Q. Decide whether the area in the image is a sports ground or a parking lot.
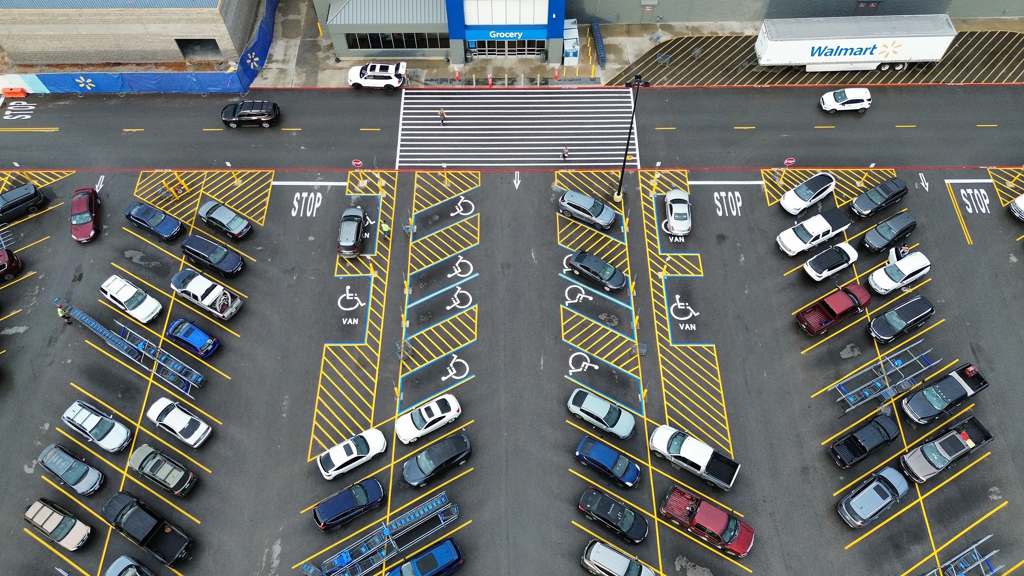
parking lot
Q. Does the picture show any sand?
No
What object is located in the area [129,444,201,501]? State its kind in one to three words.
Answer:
car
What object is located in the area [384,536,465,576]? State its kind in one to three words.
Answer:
car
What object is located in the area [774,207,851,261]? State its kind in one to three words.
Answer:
truck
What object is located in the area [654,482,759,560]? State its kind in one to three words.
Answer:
truck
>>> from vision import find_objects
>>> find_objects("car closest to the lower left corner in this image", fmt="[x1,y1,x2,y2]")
[22,495,99,555]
